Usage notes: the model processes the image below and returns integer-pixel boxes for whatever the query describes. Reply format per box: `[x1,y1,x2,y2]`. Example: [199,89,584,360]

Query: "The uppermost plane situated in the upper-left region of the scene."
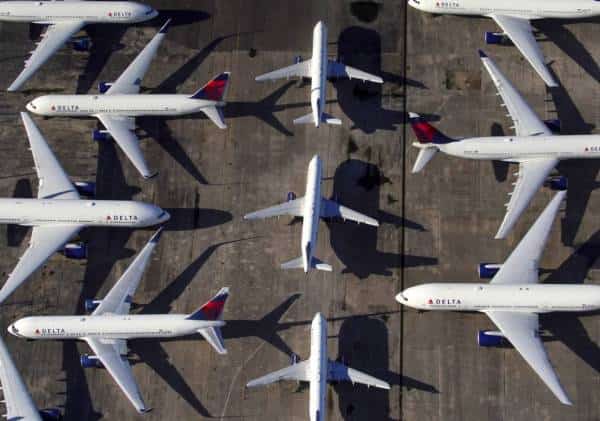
[0,0,162,92]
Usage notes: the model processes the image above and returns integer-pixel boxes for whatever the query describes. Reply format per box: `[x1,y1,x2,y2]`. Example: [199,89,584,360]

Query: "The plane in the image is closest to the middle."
[244,155,378,272]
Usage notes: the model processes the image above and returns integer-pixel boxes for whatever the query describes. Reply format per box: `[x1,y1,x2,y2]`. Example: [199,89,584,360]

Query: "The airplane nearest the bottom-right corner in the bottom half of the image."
[398,193,600,404]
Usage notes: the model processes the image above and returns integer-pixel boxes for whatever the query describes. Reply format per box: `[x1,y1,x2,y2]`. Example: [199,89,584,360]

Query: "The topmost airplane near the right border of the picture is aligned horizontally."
[408,0,600,85]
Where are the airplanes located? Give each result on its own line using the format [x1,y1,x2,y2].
[27,19,230,177]
[408,0,600,85]
[247,313,388,421]
[398,193,600,404]
[0,348,63,421]
[0,0,162,92]
[244,155,378,272]
[9,228,228,411]
[0,110,173,309]
[410,47,600,237]
[255,21,382,127]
